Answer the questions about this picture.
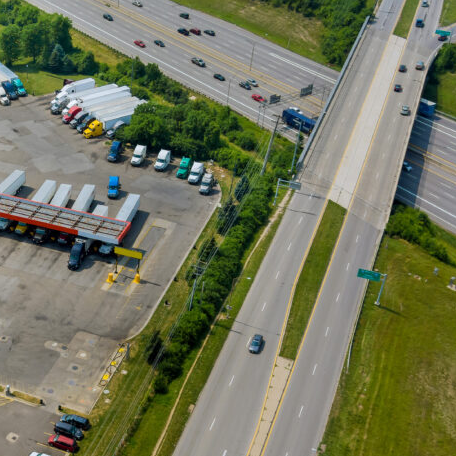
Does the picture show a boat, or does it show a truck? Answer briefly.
truck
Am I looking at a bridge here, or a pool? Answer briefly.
bridge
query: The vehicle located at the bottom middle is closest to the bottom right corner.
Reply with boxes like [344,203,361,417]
[246,331,265,353]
